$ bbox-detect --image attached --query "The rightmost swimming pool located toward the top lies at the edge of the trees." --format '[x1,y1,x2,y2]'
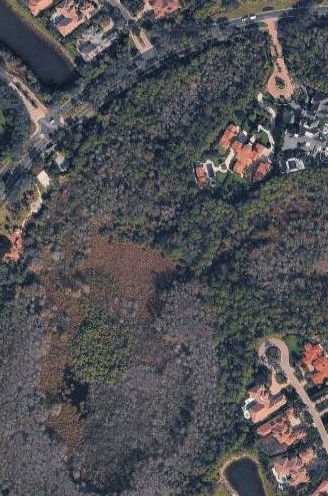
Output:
[286,158,302,171]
